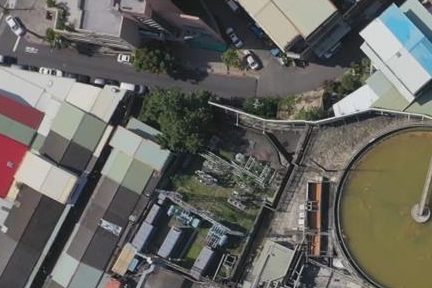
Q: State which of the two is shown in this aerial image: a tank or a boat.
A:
tank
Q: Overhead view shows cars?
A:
Yes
